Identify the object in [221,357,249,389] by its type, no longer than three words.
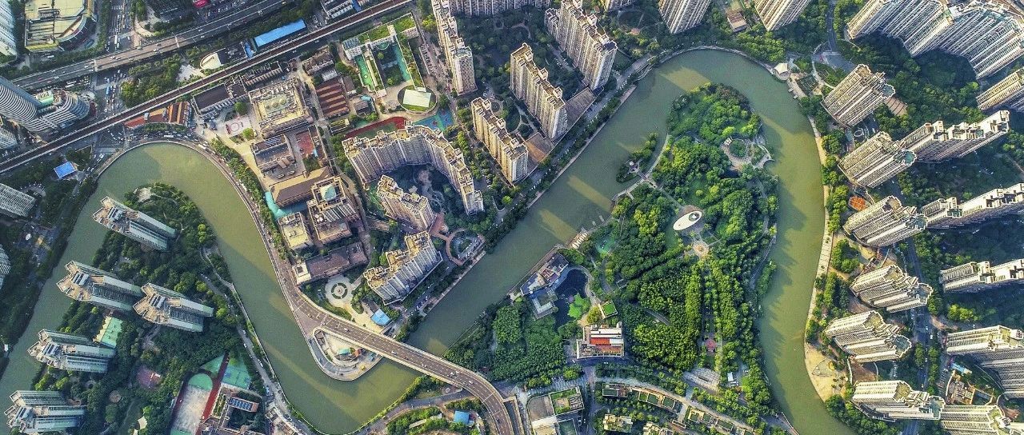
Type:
basketball court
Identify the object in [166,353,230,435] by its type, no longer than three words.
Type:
running track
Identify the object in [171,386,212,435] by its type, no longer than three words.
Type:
sports field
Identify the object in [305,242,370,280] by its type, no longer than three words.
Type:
building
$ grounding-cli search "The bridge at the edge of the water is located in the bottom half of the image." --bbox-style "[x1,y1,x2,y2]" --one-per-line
[278,287,516,435]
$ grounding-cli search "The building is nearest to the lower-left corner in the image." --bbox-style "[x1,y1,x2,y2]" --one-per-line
[2,391,100,433]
